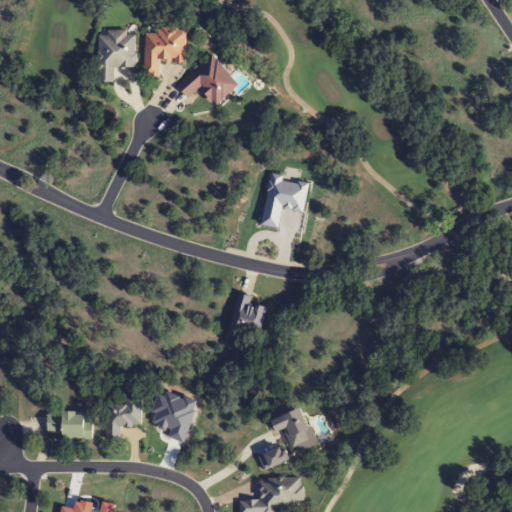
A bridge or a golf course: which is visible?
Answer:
golf course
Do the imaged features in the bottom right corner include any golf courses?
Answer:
Yes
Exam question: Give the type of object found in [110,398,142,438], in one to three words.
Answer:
house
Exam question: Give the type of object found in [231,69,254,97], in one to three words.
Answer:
swimming pool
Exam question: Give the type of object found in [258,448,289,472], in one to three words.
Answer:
house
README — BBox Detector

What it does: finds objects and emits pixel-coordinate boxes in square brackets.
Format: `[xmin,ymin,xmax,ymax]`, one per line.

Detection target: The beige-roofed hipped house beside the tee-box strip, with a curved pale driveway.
[98,28,138,82]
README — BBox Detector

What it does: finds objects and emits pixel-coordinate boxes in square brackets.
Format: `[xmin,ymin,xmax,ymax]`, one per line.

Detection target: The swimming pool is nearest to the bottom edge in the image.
[304,412,334,437]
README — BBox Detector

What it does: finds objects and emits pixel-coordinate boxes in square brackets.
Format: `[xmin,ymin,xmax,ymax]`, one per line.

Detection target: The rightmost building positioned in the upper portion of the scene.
[260,170,312,226]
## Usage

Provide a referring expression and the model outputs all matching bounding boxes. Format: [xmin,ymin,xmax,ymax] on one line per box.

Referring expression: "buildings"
[98,28,138,82]
[235,477,306,512]
[46,410,93,440]
[144,25,188,78]
[149,392,198,444]
[270,407,318,452]
[258,448,289,472]
[110,398,142,438]
[260,170,312,226]
[176,53,238,104]
[60,500,116,512]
